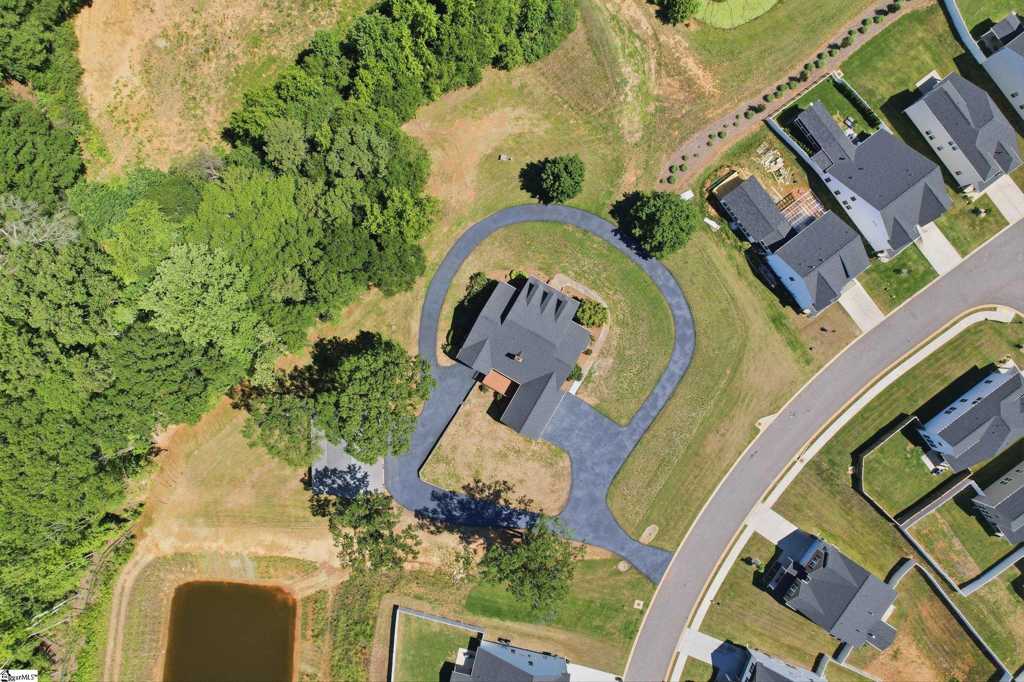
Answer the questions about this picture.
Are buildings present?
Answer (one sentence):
Yes, the frame does contain a building.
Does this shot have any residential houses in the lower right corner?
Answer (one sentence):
Yes, in the lower right corner there is a residential house.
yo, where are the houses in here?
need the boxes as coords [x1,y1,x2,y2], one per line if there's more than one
[777,539,900,653]
[456,275,592,441]
[794,100,953,259]
[921,366,1024,474]
[719,176,871,317]
[983,11,1024,108]
[974,463,1024,549]
[449,642,570,682]
[906,71,1024,192]
[728,648,819,682]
